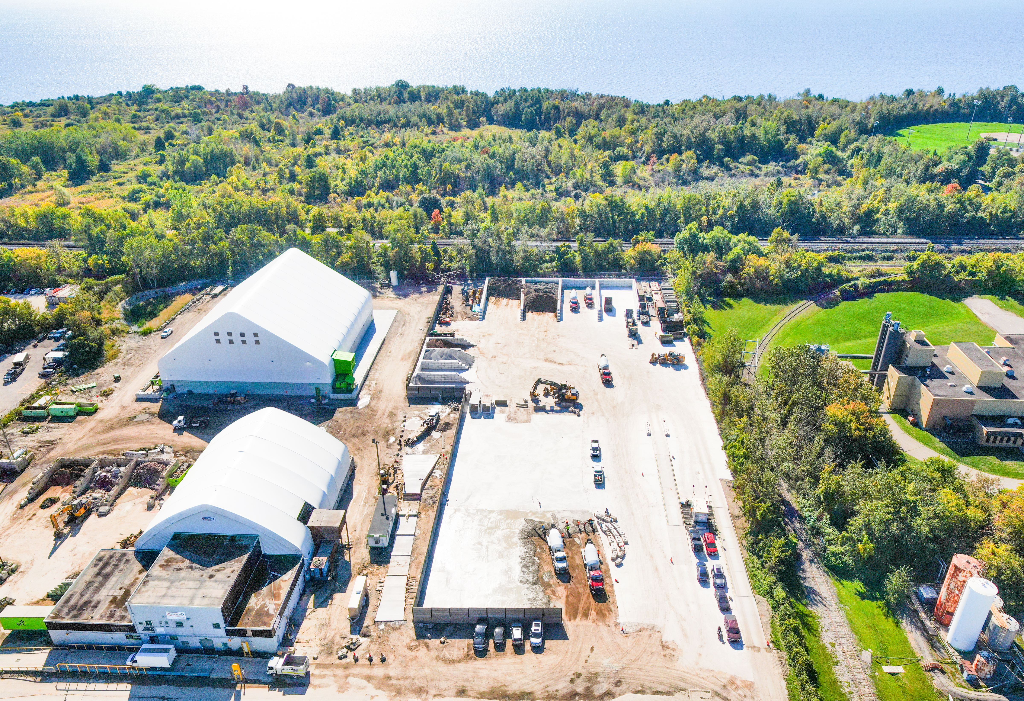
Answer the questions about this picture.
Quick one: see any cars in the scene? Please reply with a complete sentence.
Yes, you can see a car in this photo.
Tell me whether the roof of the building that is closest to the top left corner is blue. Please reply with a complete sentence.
No, the color of the roof of the building that is closest to the top left corner is white.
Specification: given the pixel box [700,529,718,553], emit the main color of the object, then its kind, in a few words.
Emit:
red car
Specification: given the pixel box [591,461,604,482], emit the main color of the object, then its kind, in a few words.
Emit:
white vehicle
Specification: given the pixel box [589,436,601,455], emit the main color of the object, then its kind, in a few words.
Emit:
white vehicle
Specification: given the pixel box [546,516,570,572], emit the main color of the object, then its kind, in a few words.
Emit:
white truck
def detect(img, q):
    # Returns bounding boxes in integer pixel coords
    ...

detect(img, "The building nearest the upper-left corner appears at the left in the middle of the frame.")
[157,244,372,396]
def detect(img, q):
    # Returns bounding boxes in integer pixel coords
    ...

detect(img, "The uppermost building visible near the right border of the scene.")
[885,318,1024,447]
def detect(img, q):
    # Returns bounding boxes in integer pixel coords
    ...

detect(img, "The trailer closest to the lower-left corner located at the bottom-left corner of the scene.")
[0,598,54,628]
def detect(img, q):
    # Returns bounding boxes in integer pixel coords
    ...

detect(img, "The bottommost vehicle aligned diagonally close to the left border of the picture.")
[51,498,96,538]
